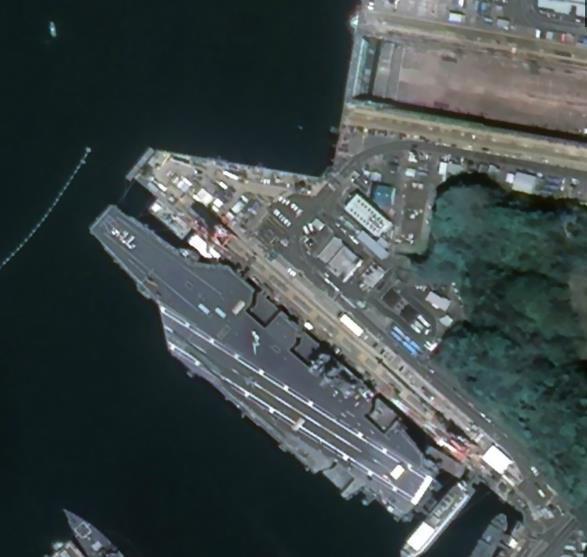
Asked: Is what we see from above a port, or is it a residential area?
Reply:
port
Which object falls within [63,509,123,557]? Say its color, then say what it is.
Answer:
gray ship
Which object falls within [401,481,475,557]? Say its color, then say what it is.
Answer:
white ship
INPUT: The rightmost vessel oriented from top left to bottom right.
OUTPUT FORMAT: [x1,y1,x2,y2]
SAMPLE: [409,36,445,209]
[427,446,467,479]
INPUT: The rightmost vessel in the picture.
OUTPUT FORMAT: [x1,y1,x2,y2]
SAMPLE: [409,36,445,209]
[470,513,507,557]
